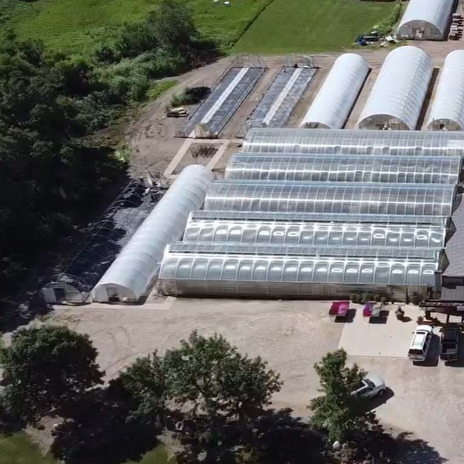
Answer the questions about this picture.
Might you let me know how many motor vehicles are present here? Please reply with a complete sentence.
The photo contains 3 motor vehicles.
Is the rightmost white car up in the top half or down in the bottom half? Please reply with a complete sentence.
It is in the bottom half that the rightmost white car appears.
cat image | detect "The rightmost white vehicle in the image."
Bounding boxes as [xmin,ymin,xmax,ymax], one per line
[408,325,431,364]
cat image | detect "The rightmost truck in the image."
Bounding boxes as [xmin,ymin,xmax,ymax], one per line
[436,322,461,364]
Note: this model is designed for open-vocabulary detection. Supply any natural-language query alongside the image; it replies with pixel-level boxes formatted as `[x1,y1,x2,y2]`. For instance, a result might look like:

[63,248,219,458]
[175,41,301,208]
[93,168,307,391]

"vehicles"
[436,322,461,364]
[408,325,431,364]
[358,371,399,401]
